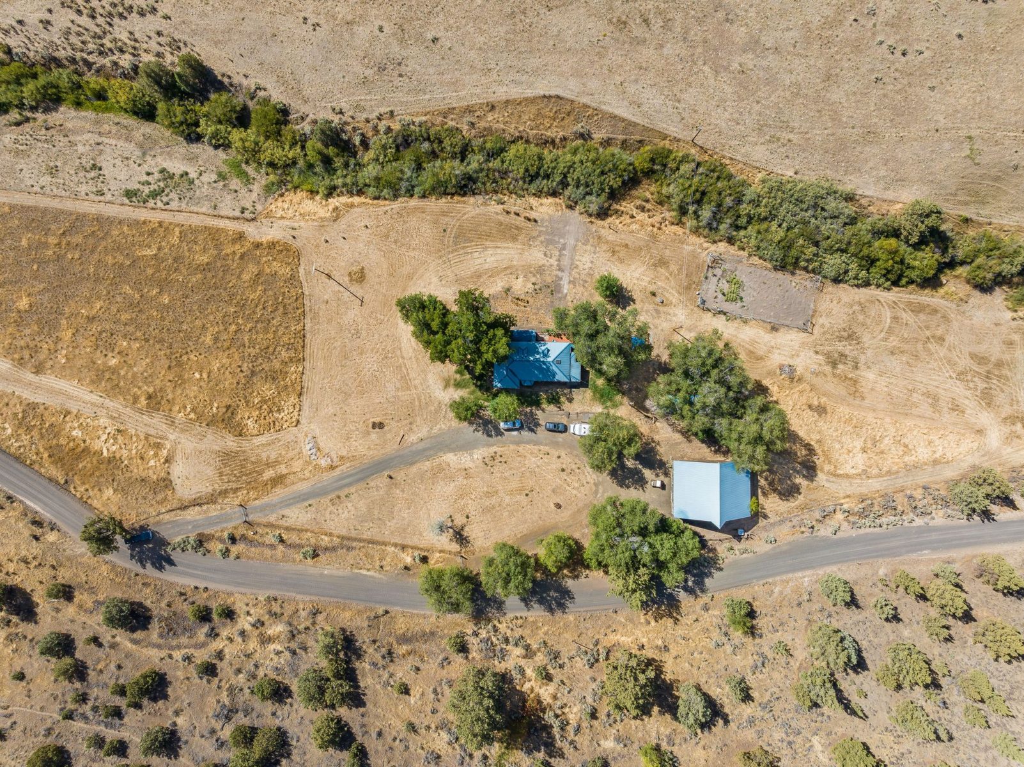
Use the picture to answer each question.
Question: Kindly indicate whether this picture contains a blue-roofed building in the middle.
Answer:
Yes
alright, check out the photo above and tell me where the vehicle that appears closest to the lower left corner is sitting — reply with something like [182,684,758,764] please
[126,531,152,545]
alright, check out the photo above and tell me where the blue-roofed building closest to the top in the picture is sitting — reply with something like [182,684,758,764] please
[493,330,581,389]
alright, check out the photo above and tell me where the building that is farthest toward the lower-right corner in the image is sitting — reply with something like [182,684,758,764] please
[671,460,751,530]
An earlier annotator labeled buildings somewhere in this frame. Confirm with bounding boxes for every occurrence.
[671,460,751,530]
[493,330,581,389]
